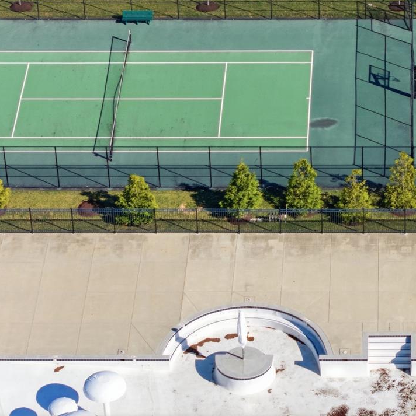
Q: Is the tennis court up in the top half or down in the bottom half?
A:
top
